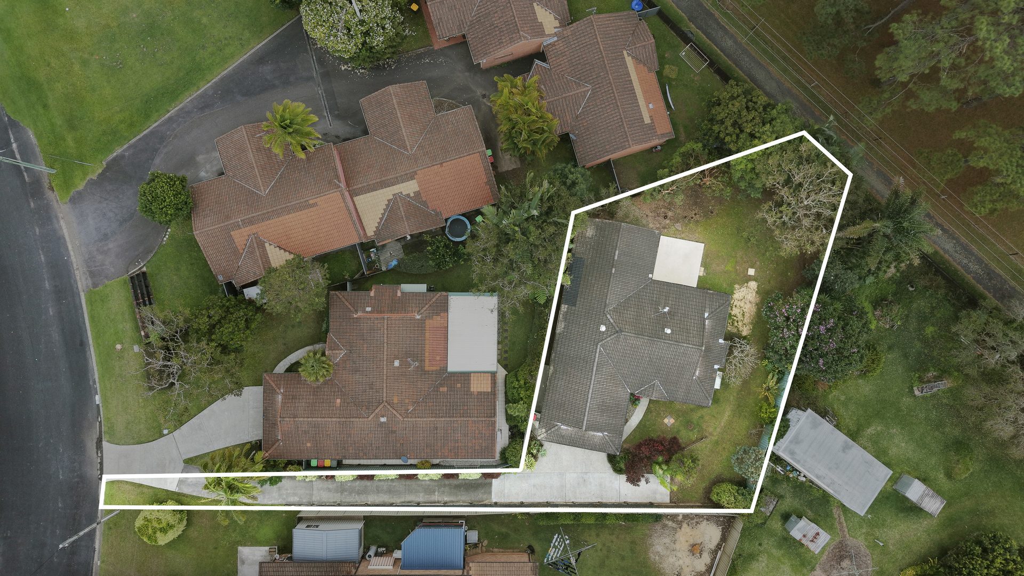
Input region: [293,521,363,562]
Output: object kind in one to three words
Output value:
shed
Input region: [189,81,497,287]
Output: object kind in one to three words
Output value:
house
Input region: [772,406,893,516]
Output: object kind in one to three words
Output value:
shed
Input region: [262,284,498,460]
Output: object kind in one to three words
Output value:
house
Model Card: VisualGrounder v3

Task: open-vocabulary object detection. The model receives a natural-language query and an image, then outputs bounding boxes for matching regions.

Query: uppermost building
[427,0,571,73]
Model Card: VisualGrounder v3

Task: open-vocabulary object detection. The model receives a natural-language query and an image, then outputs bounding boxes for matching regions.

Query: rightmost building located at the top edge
[525,10,675,170]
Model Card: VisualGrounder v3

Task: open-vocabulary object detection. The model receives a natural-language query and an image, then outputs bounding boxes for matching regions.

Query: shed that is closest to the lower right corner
[895,474,946,517]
